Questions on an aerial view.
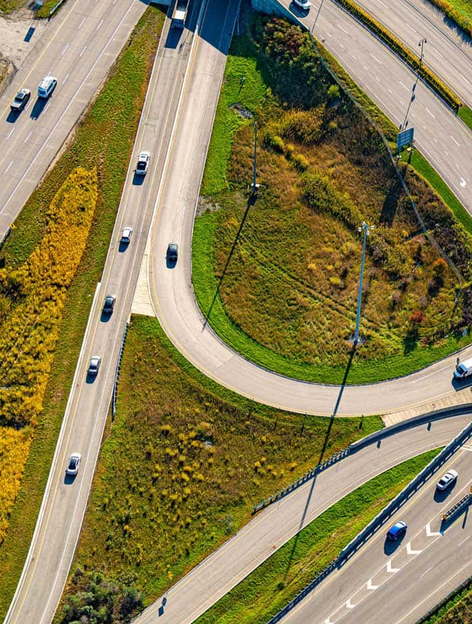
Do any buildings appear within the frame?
No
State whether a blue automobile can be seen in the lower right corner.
Yes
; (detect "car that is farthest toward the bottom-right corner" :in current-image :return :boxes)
[385,524,407,542]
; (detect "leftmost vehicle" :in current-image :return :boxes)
[10,91,29,111]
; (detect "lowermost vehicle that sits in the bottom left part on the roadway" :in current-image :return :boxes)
[66,456,80,477]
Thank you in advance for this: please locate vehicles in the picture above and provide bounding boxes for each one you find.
[87,357,100,377]
[120,229,133,245]
[38,79,56,97]
[167,245,178,262]
[135,154,149,175]
[385,524,407,542]
[435,471,458,492]
[103,295,115,314]
[10,91,29,111]
[293,0,311,10]
[66,456,80,477]
[453,359,472,381]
